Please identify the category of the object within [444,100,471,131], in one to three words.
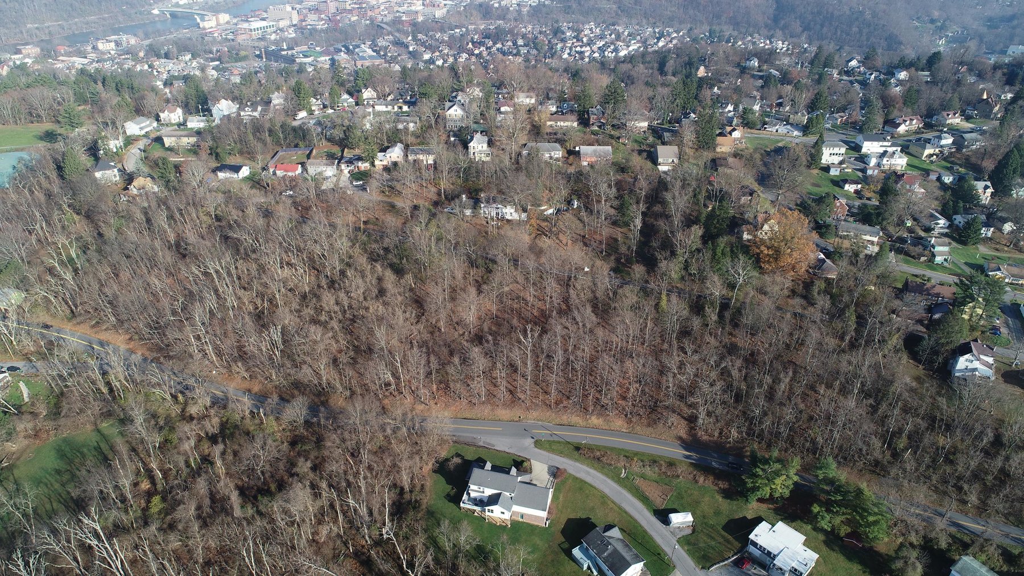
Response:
house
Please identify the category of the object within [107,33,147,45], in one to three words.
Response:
building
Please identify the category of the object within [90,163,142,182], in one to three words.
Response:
house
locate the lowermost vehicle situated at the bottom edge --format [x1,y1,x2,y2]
[737,552,752,572]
